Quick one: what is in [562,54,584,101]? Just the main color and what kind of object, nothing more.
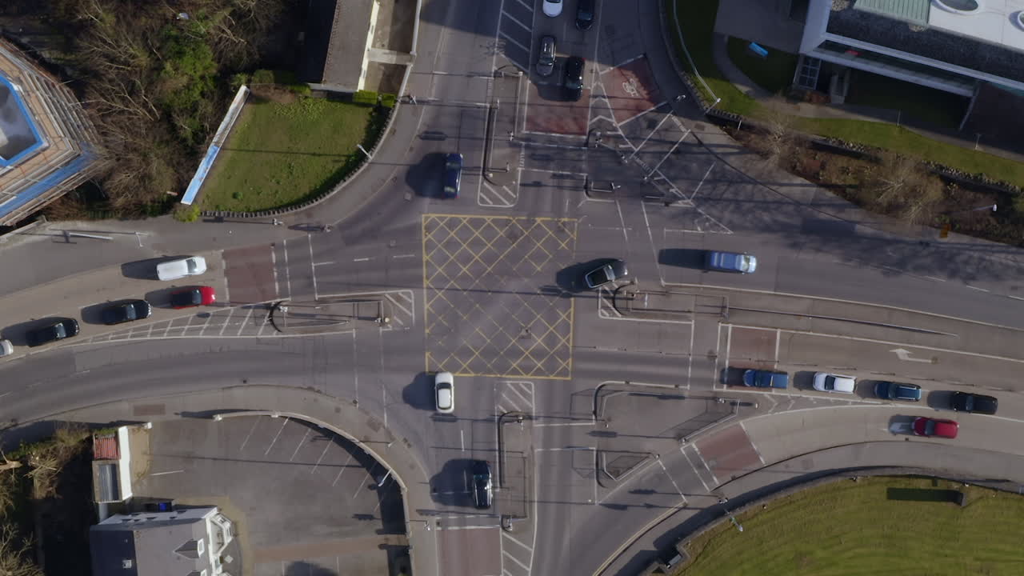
black car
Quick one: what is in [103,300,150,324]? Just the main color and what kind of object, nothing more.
black car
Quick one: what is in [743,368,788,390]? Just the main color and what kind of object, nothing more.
blue car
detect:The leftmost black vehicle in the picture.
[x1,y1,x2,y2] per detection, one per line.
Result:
[28,318,78,345]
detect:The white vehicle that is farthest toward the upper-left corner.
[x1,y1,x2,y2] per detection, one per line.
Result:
[157,255,206,281]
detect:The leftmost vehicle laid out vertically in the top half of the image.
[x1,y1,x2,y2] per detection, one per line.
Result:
[442,153,463,198]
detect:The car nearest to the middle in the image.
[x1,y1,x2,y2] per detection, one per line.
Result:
[583,259,629,288]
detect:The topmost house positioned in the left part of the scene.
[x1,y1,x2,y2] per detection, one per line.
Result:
[315,0,380,98]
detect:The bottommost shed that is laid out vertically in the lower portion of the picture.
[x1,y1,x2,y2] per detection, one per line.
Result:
[93,423,133,521]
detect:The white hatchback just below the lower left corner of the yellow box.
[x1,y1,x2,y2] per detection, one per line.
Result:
[434,372,455,412]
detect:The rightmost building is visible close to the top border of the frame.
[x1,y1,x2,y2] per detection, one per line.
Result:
[791,0,1024,144]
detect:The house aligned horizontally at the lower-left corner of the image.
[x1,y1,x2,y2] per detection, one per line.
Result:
[89,508,237,576]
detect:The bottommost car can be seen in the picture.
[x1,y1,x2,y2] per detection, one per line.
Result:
[471,461,492,508]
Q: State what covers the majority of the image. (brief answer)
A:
paved ground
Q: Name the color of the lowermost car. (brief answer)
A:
black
